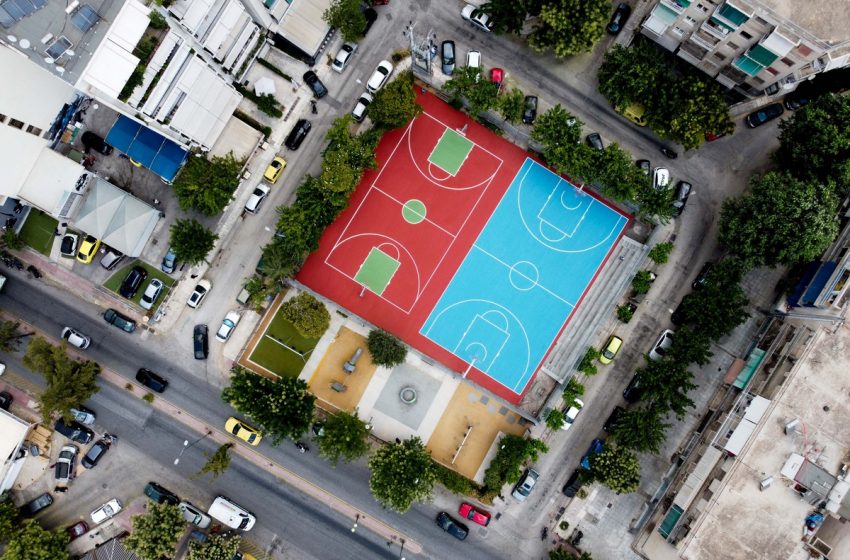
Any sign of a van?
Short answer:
Yes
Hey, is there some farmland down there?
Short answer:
No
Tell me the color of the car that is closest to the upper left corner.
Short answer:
black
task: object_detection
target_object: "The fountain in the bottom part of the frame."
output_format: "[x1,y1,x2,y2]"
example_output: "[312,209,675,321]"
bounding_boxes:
[399,386,417,404]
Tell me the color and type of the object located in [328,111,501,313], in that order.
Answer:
red basketball court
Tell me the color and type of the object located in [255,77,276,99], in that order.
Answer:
white umbrella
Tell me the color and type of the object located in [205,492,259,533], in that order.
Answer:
white van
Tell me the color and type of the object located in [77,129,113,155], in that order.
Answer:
black car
